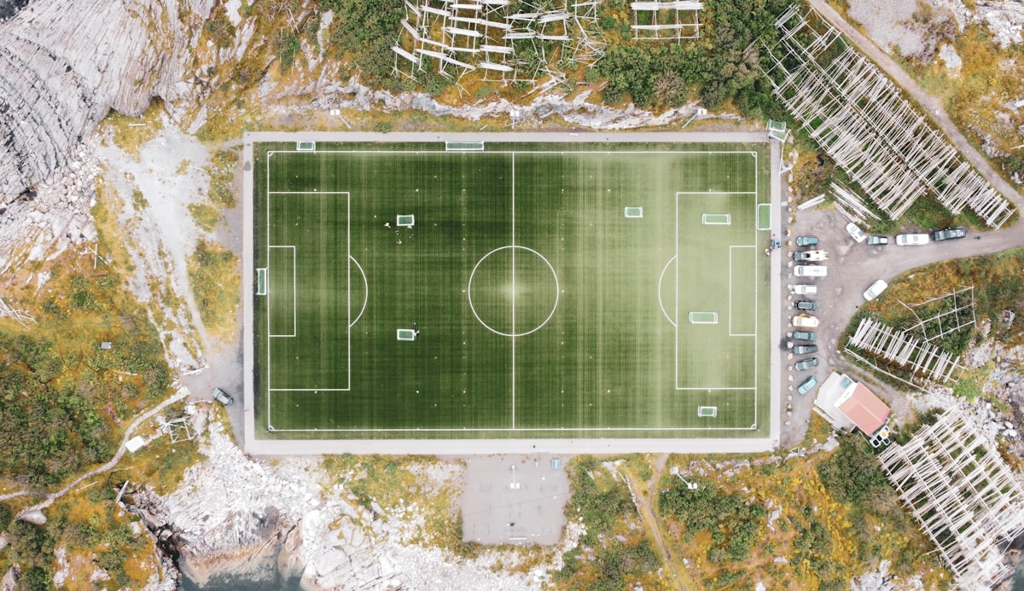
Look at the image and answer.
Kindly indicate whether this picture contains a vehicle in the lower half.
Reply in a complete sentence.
Yes, a vehicle can be seen in the lower half.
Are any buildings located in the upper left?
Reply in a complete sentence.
No, looking in the upper left, there is no building.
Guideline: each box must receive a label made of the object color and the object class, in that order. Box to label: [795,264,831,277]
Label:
white vehicle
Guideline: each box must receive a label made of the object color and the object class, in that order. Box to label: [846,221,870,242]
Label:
white vehicle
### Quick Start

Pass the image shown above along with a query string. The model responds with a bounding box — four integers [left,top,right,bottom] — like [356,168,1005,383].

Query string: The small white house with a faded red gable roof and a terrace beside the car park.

[812,372,891,435]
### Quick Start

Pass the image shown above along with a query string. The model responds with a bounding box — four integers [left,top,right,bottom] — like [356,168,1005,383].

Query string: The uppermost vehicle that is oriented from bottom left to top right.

[864,279,892,301]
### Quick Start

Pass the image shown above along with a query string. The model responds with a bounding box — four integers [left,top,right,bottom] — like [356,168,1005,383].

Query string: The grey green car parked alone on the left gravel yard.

[210,388,233,407]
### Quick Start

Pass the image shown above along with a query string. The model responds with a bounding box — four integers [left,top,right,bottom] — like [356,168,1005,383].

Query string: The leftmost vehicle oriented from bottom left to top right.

[797,376,820,395]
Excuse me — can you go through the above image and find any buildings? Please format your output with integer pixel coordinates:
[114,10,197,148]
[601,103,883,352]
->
[119,436,145,456]
[812,372,891,435]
